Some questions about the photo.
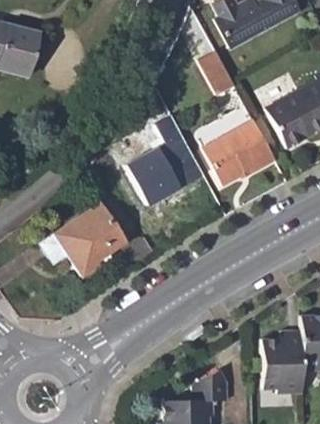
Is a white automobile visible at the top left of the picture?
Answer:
No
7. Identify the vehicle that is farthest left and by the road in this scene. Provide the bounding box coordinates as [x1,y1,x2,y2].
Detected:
[116,295,142,312]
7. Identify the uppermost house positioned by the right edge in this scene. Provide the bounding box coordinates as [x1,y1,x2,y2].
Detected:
[204,0,308,50]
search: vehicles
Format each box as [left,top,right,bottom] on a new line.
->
[269,198,291,215]
[182,325,204,344]
[278,218,300,234]
[211,315,232,330]
[144,272,166,290]
[252,274,275,292]
[116,295,142,312]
